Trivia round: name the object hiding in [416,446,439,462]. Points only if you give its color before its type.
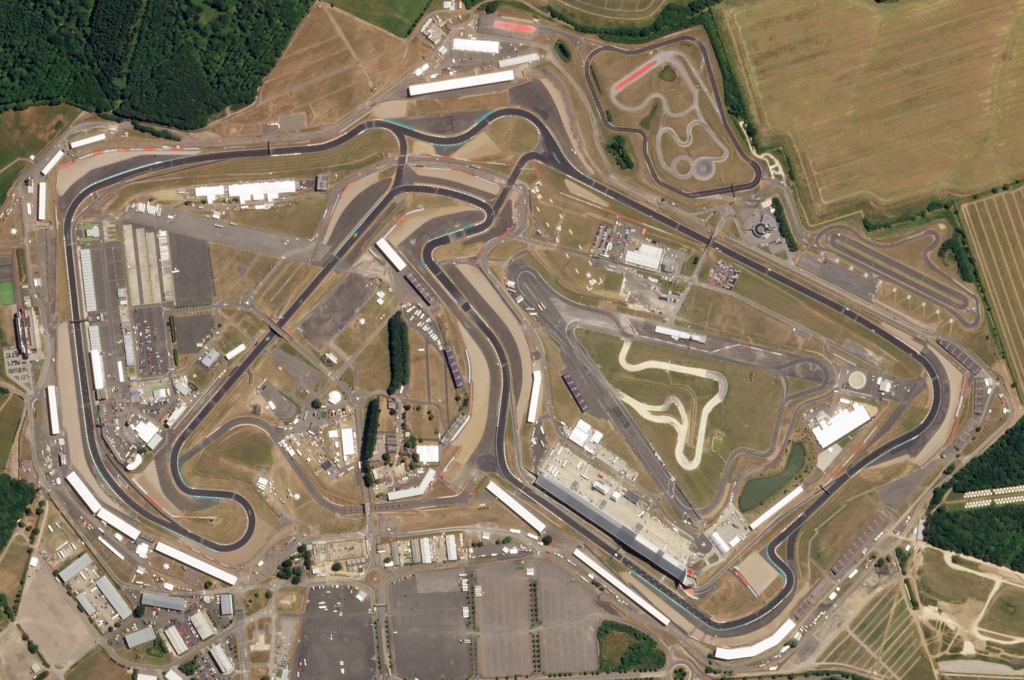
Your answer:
white tent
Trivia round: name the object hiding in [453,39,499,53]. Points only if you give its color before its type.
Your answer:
white tent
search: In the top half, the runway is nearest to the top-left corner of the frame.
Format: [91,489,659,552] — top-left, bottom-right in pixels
[98,208,330,266]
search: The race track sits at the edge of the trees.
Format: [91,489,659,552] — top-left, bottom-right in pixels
[64,106,941,629]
